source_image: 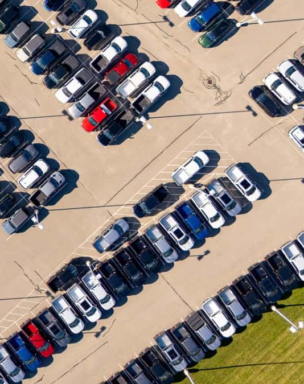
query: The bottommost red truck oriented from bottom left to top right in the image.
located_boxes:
[80,94,121,133]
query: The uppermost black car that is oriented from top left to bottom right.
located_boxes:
[245,83,283,119]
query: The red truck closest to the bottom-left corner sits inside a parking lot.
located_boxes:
[19,316,57,359]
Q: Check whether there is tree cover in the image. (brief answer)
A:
No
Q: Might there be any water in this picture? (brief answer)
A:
No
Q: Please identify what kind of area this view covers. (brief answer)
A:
parking lot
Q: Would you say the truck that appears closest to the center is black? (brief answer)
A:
Yes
